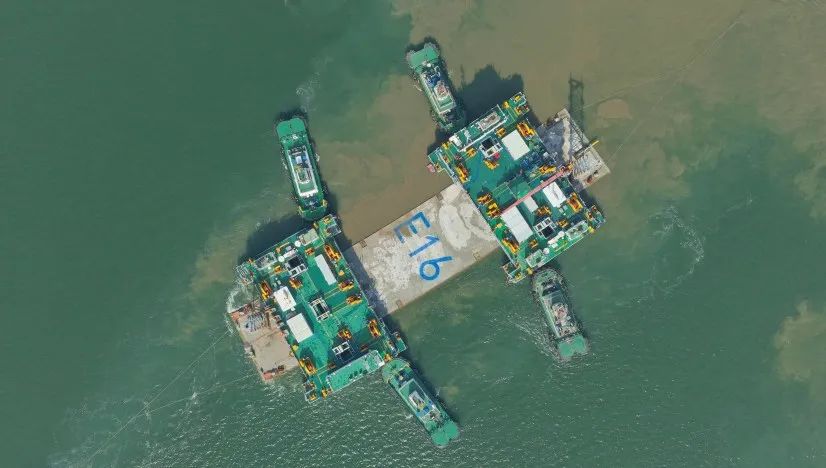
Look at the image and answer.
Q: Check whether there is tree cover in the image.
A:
No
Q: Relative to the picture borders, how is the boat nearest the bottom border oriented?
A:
at an angle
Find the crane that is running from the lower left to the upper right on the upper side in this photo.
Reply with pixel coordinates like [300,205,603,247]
[491,158,576,215]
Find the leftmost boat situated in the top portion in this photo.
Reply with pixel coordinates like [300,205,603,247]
[277,115,327,222]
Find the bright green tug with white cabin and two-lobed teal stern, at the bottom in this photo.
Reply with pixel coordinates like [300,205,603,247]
[386,355,459,447]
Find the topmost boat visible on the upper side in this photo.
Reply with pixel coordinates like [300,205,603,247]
[408,42,467,135]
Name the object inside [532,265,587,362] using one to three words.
boat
